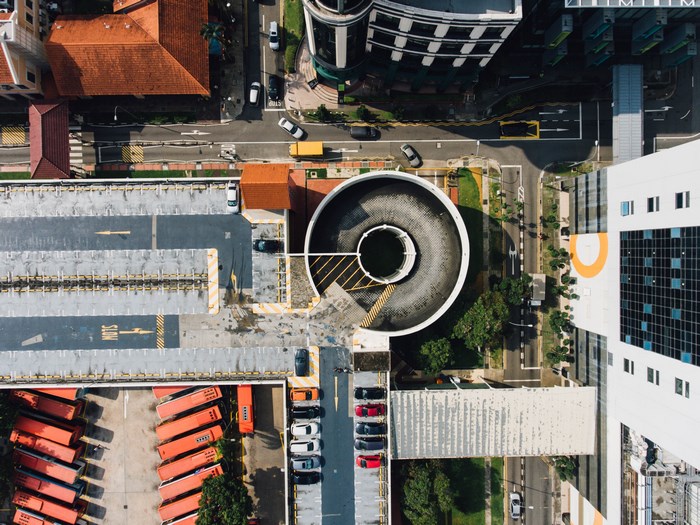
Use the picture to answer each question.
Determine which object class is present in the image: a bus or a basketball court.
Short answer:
bus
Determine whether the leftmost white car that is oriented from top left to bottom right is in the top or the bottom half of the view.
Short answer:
top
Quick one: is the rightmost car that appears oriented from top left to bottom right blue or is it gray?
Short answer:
gray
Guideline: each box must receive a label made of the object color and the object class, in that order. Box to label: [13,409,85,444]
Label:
red bus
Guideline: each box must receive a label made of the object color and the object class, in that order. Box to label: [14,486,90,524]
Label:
red bus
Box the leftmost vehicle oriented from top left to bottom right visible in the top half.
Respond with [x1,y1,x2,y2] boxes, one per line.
[278,118,304,141]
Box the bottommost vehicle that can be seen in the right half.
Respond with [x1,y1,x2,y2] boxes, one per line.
[509,489,521,518]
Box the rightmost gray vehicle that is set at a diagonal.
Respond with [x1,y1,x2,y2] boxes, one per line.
[400,142,421,168]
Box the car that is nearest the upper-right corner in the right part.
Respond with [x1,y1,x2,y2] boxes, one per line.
[502,124,530,136]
